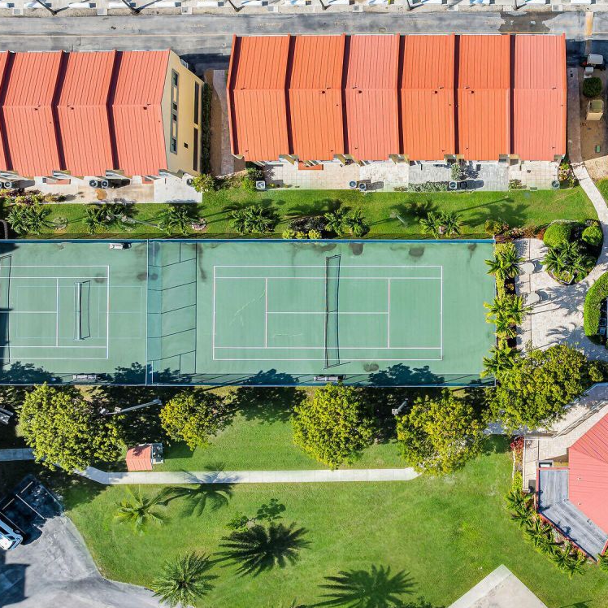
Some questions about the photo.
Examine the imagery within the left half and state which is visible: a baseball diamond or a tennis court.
tennis court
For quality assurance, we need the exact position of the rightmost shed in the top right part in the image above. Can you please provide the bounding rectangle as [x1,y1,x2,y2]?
[585,96,605,119]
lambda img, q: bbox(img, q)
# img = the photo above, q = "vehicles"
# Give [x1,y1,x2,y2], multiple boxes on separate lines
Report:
[0,524,20,554]
[583,49,606,67]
